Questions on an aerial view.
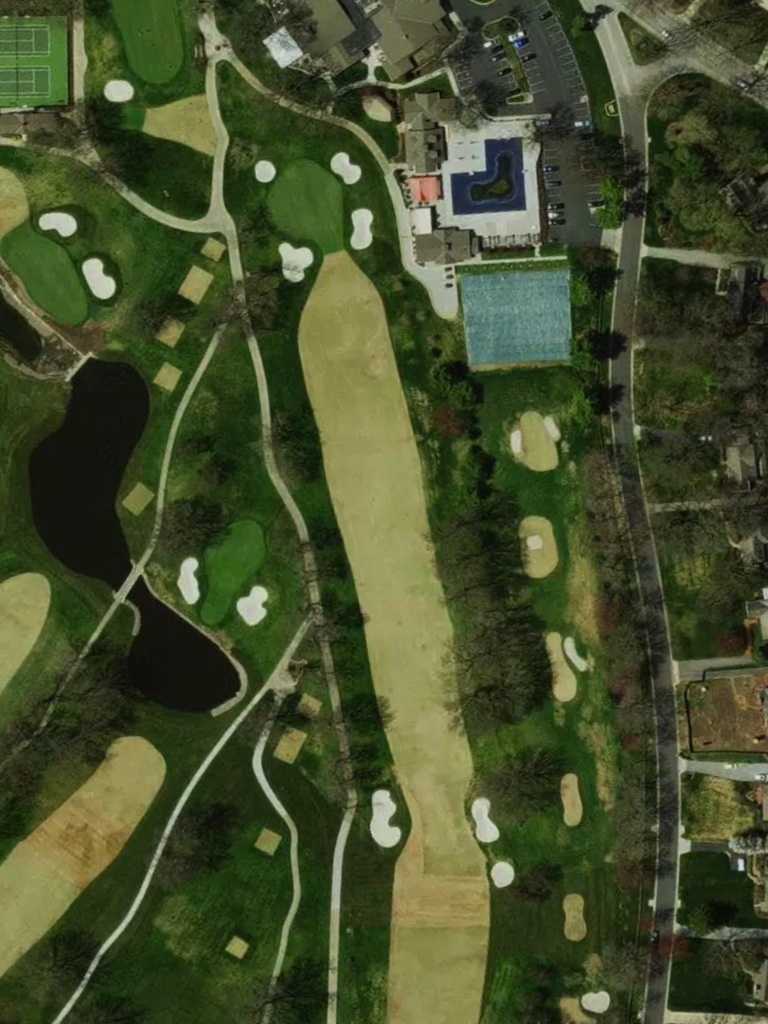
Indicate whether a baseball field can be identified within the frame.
No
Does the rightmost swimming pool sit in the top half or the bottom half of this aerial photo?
top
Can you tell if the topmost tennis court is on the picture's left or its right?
left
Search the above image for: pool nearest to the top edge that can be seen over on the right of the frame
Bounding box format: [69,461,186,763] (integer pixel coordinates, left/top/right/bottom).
[451,137,527,215]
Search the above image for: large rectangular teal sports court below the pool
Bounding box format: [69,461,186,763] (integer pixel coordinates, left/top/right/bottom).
[460,268,572,371]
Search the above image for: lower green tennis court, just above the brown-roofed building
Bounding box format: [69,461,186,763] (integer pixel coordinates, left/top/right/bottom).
[0,61,67,106]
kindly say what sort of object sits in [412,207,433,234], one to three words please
building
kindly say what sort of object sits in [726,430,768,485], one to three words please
house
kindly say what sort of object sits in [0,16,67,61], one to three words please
tennis court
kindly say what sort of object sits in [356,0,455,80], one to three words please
building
